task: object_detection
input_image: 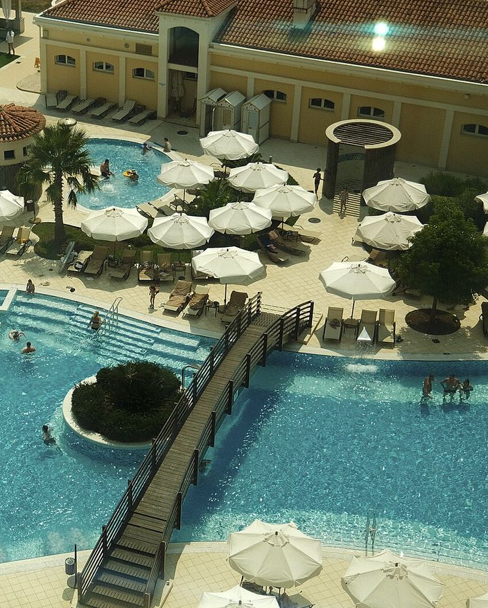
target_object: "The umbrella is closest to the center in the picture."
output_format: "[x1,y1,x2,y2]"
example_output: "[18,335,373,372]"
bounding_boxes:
[189,249,263,312]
